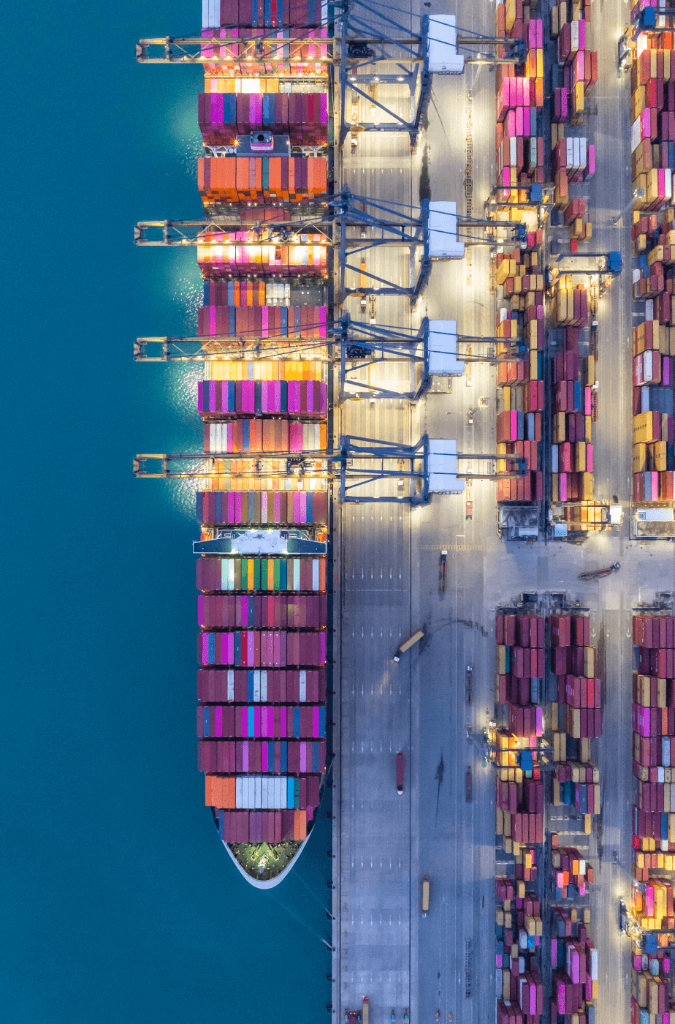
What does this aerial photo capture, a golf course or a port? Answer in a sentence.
The picture captures a port.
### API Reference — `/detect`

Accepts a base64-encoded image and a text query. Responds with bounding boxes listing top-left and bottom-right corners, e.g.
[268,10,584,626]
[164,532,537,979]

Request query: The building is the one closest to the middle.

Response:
[499,504,539,539]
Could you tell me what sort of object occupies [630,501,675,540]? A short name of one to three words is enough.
building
